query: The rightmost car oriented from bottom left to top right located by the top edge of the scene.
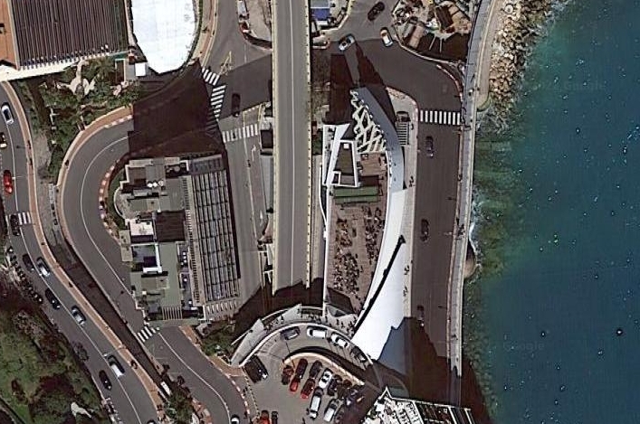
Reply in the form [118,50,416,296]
[368,1,386,20]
